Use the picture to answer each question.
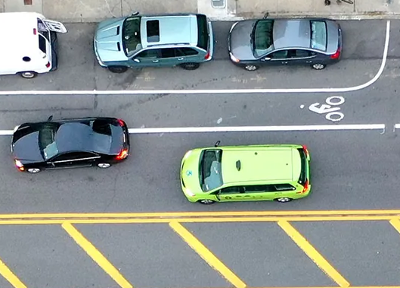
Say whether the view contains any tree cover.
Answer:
No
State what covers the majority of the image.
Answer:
paved ground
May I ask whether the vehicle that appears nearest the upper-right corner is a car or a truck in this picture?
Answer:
car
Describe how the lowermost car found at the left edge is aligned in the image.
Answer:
from left to right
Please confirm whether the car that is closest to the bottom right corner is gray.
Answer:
No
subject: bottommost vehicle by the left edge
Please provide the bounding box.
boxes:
[11,111,131,174]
